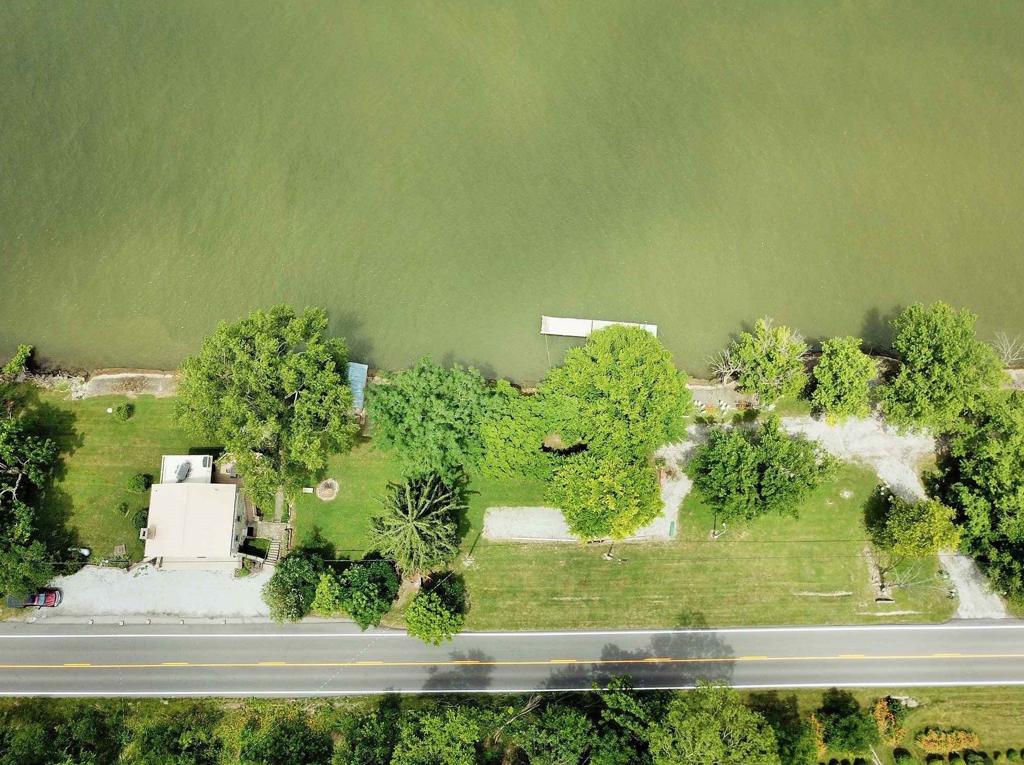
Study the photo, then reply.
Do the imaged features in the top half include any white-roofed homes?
No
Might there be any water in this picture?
Yes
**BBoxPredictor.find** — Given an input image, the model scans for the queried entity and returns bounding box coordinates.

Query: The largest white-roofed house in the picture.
[138,455,245,570]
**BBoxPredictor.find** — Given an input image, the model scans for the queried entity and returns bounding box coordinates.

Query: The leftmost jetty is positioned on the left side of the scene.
[351,364,367,408]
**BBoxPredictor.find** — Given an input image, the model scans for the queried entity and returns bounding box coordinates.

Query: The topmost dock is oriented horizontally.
[540,316,658,344]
